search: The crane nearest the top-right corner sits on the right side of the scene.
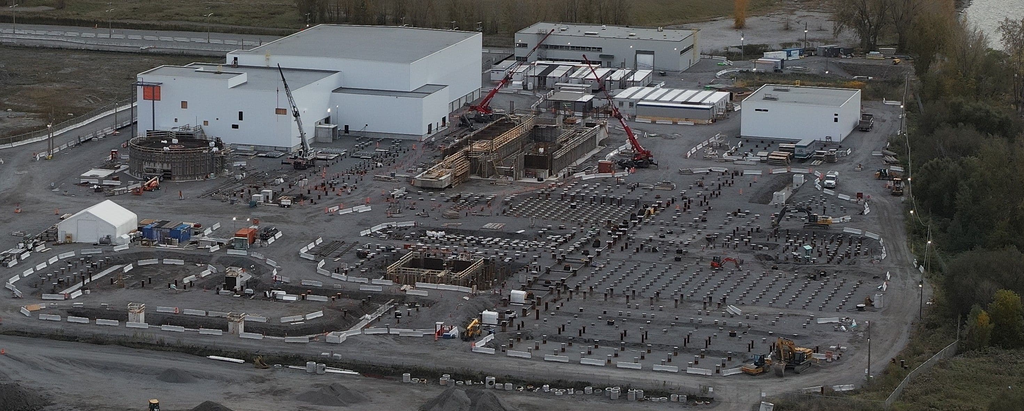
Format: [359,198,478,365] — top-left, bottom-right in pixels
[581,53,664,171]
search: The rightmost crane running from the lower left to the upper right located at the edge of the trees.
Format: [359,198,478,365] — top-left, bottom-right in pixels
[459,28,555,124]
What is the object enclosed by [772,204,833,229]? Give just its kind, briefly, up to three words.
work vehicle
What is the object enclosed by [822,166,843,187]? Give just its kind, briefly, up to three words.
truck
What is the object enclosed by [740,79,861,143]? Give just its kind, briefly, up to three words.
building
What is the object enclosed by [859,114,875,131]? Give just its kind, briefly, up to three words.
vehicle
